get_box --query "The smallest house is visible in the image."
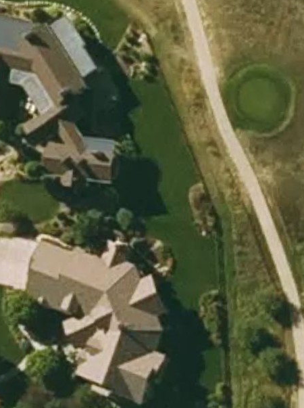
[40,113,116,188]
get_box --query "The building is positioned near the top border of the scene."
[0,15,97,136]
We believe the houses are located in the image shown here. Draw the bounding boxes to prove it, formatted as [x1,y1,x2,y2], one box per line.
[40,113,116,188]
[26,240,167,405]
[0,15,97,136]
